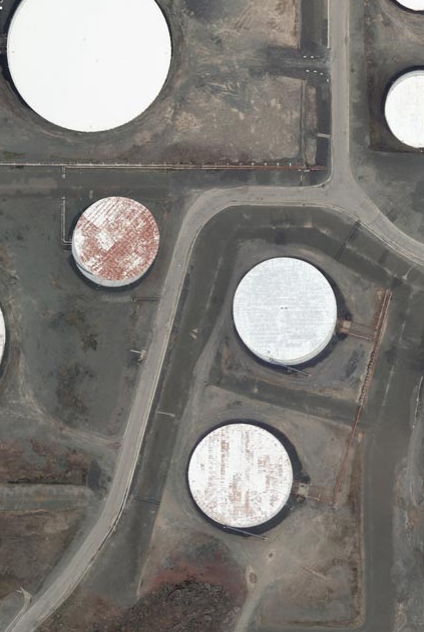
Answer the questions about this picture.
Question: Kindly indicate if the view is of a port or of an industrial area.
industrial area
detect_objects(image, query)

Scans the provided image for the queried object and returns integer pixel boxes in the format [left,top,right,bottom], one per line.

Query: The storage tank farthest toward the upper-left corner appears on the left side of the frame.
[0,0,172,135]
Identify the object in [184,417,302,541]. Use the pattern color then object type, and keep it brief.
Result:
white storage tank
